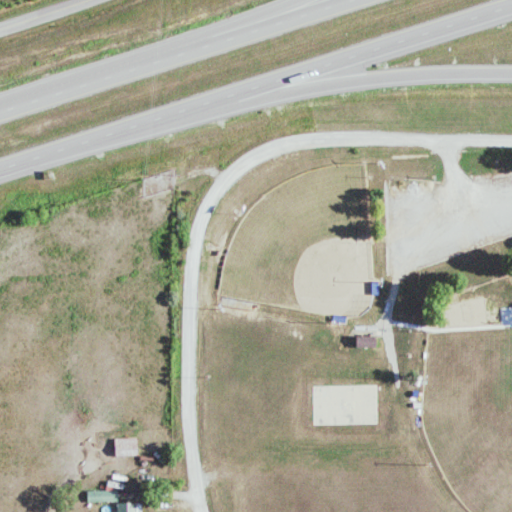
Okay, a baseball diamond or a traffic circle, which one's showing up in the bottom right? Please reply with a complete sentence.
The one visible in the bottom right is a baseball diamond.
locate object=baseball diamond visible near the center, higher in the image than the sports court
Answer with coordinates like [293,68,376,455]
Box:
[220,164,374,317]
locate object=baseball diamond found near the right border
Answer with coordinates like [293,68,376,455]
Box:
[420,296,512,512]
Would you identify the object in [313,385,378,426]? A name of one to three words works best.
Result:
sports court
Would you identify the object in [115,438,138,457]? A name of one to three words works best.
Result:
barn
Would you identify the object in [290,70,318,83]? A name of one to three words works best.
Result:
vehicle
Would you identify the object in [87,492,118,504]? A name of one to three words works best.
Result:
house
